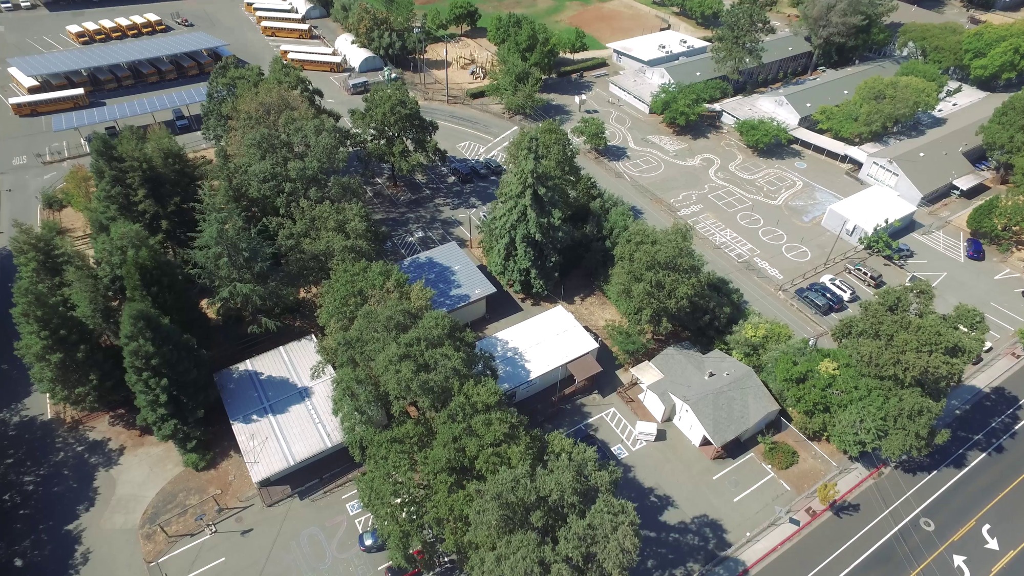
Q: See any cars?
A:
Yes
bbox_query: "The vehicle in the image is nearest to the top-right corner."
[962,239,984,261]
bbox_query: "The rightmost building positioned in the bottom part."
[615,342,781,460]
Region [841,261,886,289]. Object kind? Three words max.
car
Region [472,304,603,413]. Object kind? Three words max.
building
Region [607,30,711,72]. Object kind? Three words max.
building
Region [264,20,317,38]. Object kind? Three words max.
vehicle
